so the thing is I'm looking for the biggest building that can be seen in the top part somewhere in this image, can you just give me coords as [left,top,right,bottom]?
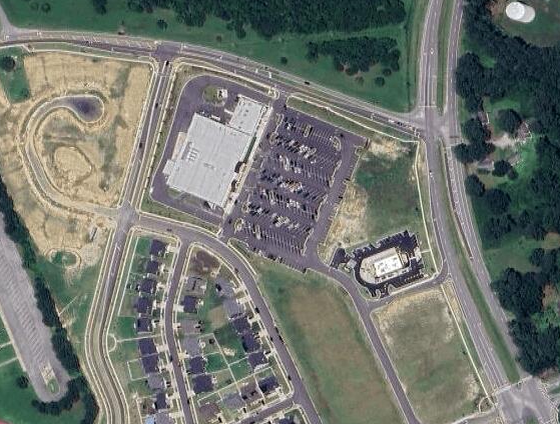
[163,96,270,209]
